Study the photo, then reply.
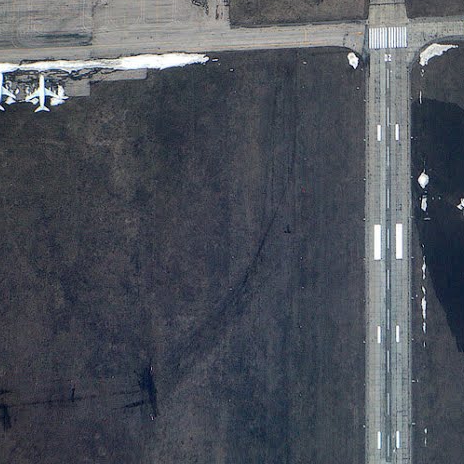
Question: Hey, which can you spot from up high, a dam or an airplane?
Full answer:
The one in the frame is an airplane.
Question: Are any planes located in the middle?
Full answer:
No, I see no plane in the middle.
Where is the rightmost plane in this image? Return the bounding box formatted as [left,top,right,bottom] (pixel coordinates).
[25,73,59,112]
